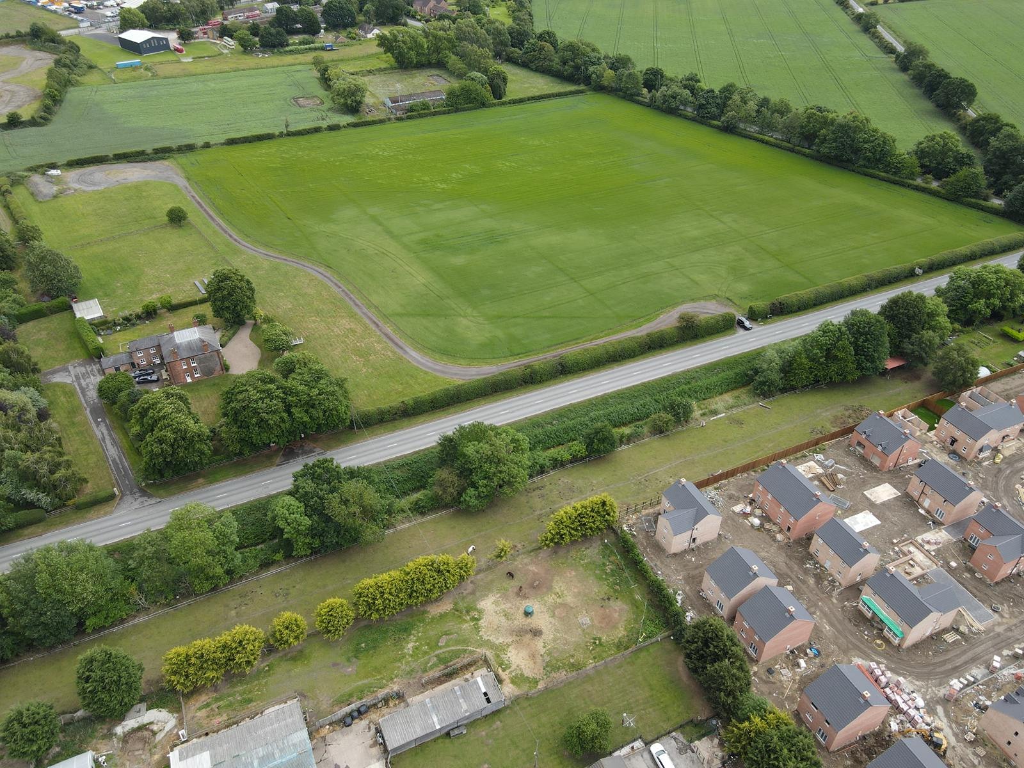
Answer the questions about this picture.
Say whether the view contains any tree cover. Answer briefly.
Yes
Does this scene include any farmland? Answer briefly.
Yes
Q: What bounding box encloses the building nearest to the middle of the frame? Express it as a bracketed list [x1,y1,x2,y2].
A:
[656,476,723,553]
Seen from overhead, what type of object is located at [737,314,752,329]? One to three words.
car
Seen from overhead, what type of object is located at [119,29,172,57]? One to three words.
building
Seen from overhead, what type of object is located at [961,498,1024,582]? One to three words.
house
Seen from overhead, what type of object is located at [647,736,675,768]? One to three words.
car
